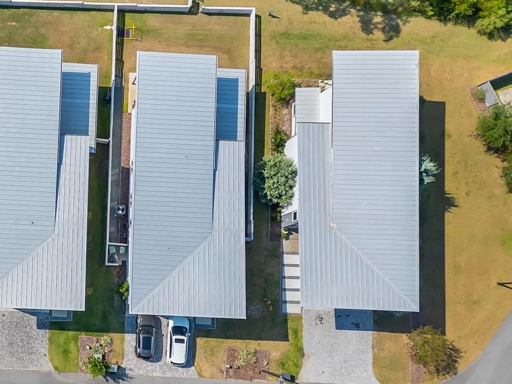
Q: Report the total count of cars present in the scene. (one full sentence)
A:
I count 2 cars.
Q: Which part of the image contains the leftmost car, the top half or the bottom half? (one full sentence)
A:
The leftmost car is in the bottom half of the image.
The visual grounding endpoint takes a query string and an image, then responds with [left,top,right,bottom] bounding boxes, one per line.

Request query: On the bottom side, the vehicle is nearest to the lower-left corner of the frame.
[132,316,157,362]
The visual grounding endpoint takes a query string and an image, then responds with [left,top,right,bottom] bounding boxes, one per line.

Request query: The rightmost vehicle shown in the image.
[164,317,190,366]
